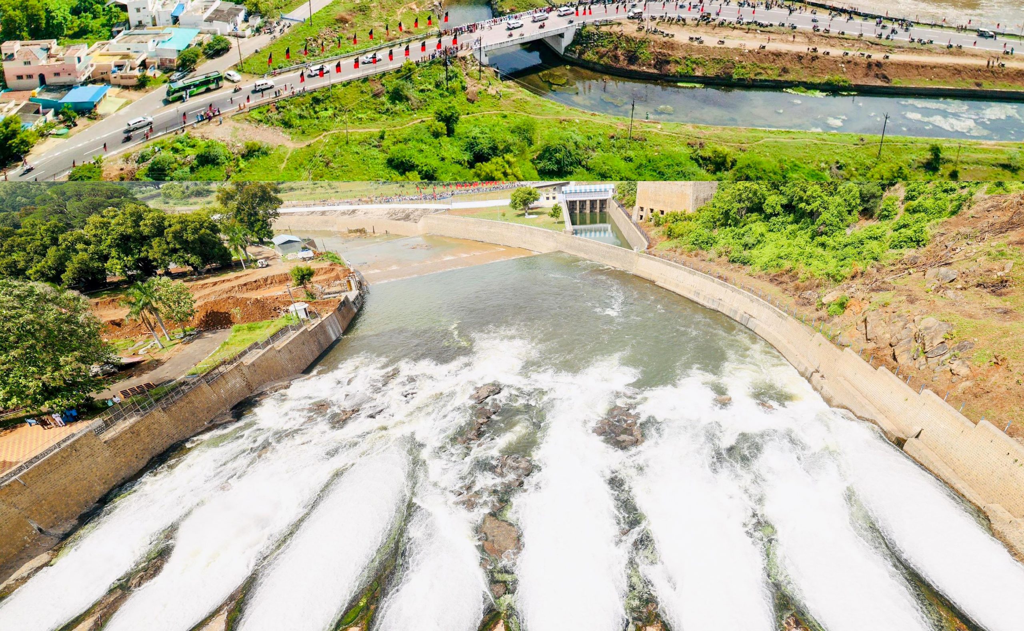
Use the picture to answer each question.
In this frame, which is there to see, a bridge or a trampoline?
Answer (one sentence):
The image shows a bridge.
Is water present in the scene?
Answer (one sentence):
Yes, there's water in this view.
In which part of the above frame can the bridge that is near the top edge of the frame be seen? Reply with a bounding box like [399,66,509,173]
[466,3,586,65]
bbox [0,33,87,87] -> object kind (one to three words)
house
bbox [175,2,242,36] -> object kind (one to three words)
house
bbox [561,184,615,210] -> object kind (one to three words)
building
